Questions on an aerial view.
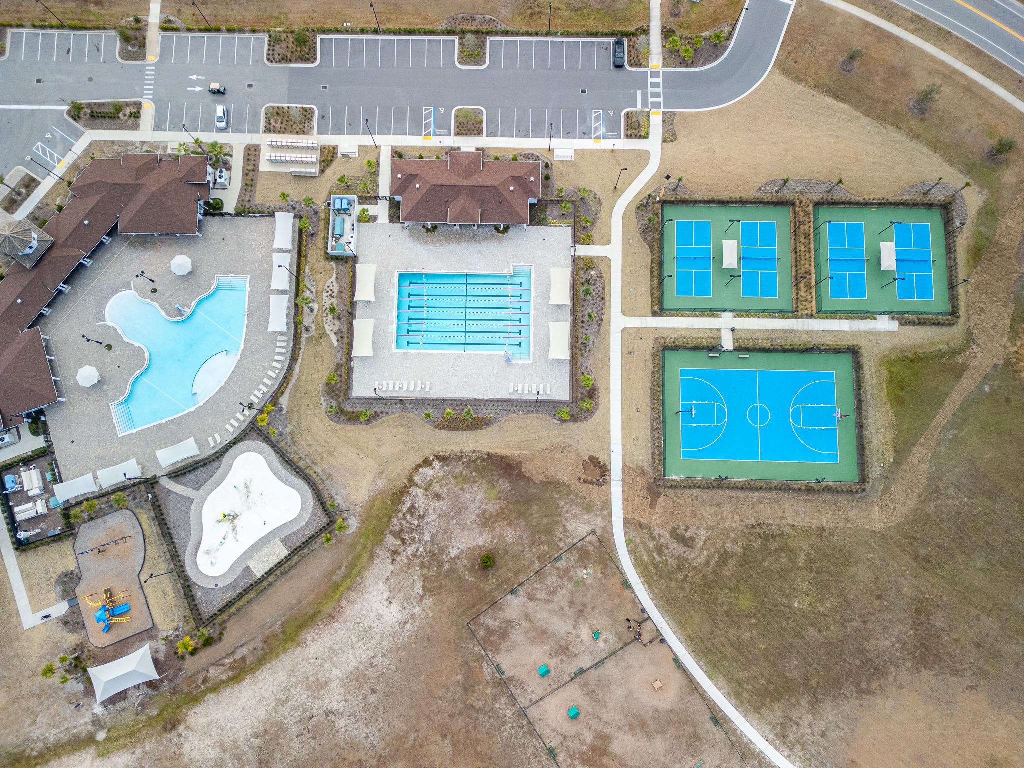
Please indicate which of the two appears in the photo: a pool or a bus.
pool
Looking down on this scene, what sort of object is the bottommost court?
basketball court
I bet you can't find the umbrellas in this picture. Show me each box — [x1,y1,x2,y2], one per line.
[172,256,195,277]
[79,365,105,385]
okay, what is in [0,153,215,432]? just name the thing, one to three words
building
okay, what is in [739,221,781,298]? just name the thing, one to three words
sports court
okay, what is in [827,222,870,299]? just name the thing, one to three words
sports court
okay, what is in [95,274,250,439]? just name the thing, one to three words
swimming pool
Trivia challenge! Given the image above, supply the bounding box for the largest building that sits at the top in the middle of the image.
[390,151,542,230]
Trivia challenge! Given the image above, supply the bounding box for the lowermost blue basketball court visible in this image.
[663,351,859,482]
